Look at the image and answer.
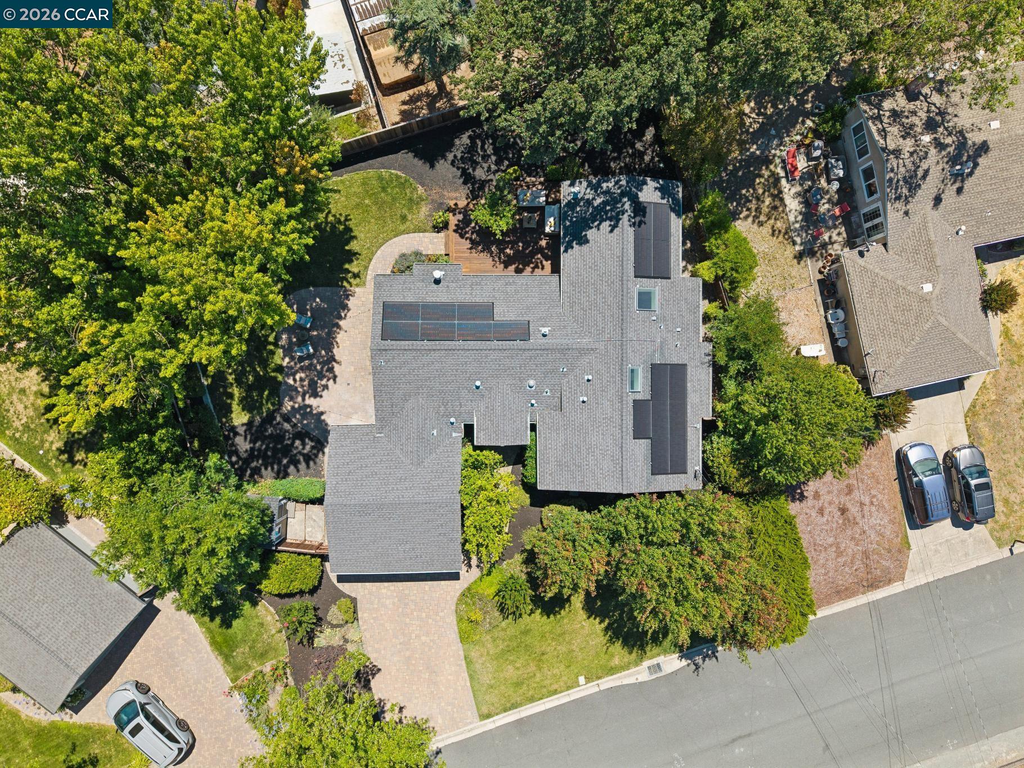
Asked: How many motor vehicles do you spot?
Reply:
3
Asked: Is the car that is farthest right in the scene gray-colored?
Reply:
Yes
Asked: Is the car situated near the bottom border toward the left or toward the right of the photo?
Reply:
left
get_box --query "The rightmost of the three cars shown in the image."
[944,444,998,524]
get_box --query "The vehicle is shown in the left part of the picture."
[109,681,191,765]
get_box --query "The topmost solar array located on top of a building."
[632,202,670,279]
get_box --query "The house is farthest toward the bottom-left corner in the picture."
[0,519,154,714]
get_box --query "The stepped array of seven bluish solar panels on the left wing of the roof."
[382,302,530,342]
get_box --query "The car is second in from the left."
[897,439,956,529]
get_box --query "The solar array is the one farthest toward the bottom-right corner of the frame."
[631,363,688,475]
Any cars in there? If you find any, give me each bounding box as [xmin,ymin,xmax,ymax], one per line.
[897,439,956,529]
[944,444,998,524]
[109,681,191,765]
